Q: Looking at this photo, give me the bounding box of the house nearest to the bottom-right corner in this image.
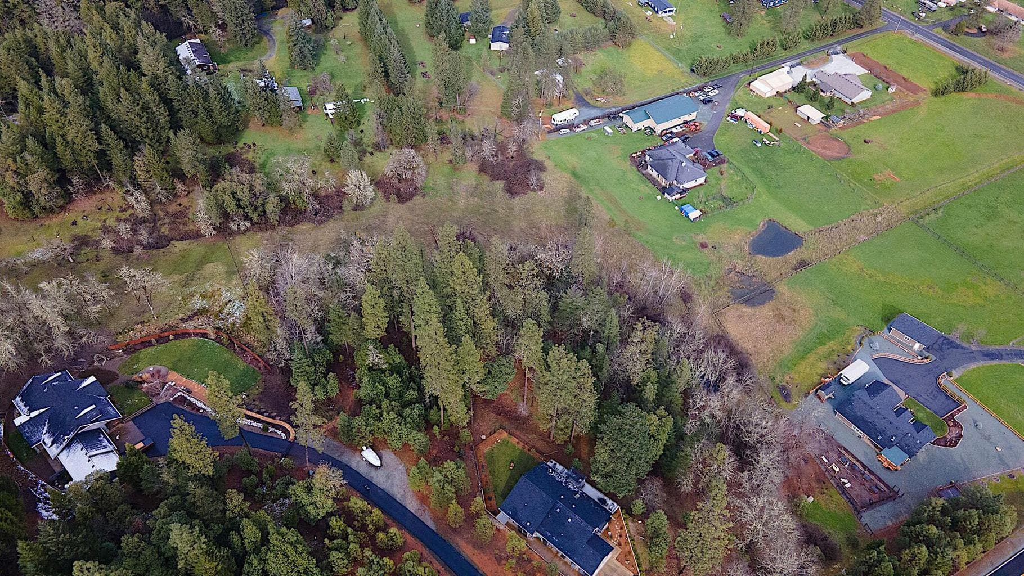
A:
[833,376,934,459]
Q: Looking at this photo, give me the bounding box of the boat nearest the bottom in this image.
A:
[358,444,378,463]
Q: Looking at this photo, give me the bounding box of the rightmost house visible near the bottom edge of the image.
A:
[499,458,621,575]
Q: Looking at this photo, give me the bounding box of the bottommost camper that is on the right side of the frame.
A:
[839,355,877,384]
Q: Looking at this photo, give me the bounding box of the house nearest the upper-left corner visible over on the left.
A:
[176,37,220,83]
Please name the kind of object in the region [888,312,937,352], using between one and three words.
building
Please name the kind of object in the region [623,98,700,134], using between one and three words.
barn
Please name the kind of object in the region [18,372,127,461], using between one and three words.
house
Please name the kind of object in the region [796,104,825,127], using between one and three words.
shed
